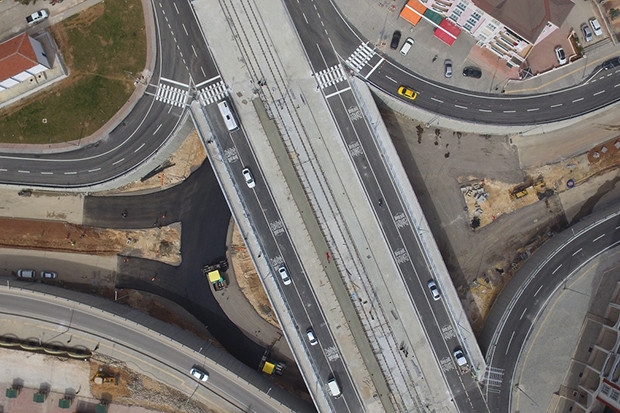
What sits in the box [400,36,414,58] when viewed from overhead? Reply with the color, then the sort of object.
white car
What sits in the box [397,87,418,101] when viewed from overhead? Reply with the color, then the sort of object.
yellow car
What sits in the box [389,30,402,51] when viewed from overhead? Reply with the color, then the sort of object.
black vehicle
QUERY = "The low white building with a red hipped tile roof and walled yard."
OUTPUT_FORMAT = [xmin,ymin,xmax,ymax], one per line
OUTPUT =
[0,31,50,92]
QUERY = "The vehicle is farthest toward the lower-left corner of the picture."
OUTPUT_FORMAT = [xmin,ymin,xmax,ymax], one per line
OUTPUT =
[93,371,121,385]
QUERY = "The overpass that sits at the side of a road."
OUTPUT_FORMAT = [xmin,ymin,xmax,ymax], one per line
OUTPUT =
[186,0,496,413]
